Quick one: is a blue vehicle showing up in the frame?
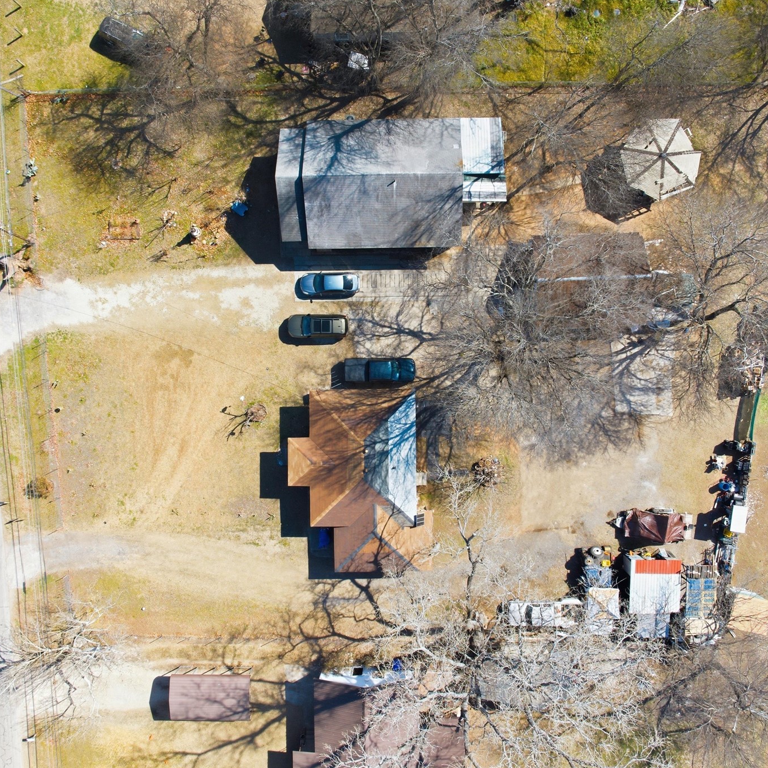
Yes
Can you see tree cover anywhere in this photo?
Yes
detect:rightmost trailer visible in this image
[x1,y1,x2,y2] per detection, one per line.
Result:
[615,514,686,548]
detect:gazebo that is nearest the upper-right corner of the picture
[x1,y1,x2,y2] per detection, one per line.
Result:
[615,118,704,204]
